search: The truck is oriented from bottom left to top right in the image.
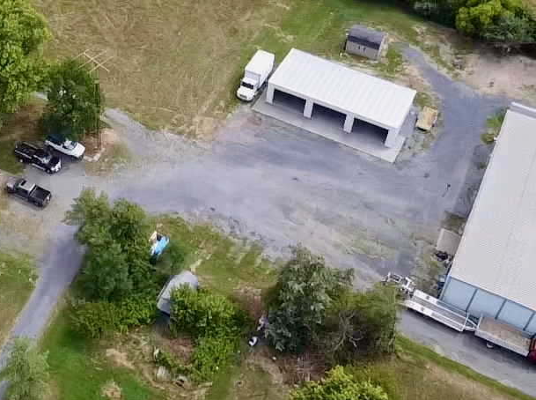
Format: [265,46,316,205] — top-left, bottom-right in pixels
[240,48,282,101]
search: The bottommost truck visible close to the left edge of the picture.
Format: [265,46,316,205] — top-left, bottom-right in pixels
[4,178,52,205]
